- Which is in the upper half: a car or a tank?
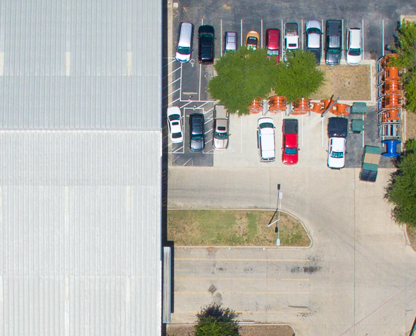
car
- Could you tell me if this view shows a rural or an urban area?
urban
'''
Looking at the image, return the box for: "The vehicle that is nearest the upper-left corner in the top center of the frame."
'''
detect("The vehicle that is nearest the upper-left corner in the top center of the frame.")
[174,23,193,64]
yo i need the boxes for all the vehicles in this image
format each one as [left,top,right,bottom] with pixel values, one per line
[303,22,324,63]
[344,27,362,67]
[197,26,215,66]
[283,23,301,60]
[212,105,230,151]
[188,113,205,153]
[245,31,259,55]
[222,32,237,67]
[324,19,343,67]
[174,23,193,64]
[280,118,300,166]
[166,107,183,145]
[256,118,276,164]
[326,115,348,172]
[264,28,283,69]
